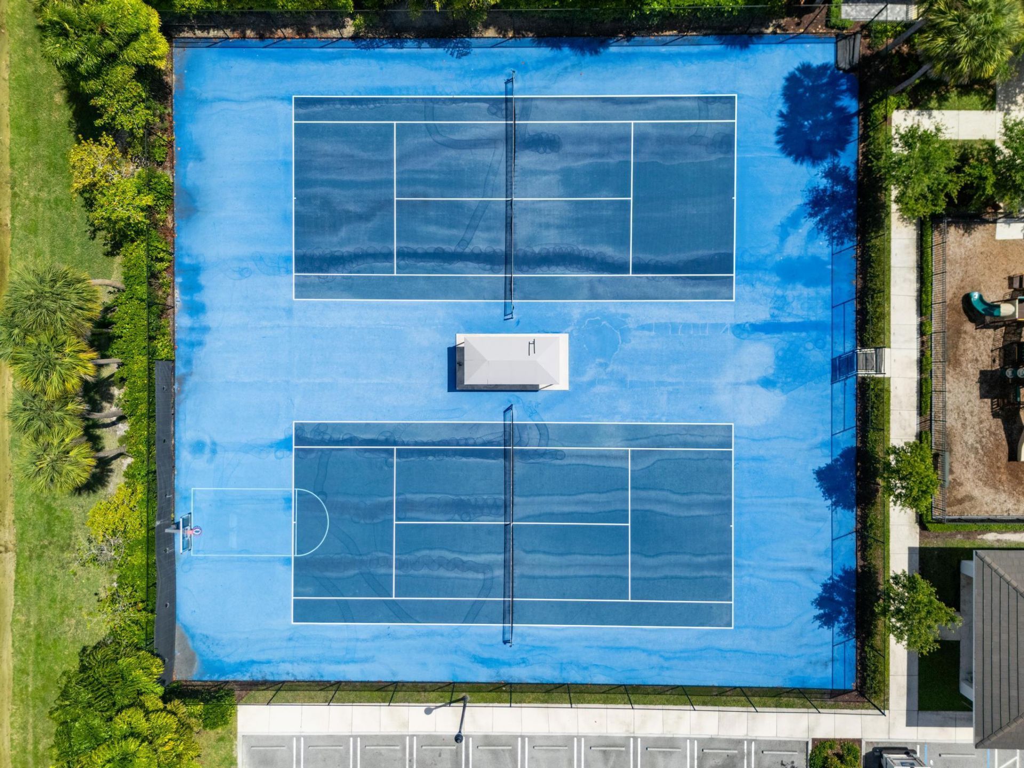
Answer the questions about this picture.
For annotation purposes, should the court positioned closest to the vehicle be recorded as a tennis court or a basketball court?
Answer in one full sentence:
From above, the court positioned closest to the vehicle can be identified as a tennis court.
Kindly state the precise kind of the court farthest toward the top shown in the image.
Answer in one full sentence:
It looks like the court farthest toward the top is a tennis court.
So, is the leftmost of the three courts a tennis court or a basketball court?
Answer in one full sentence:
I'd say the leftmost of the three courts is a basketball court.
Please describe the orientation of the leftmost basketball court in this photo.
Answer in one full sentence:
Seen from above, the leftmost basketball court lies from left to right.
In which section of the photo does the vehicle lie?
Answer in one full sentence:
The vehicle is in the bottom right part of the image.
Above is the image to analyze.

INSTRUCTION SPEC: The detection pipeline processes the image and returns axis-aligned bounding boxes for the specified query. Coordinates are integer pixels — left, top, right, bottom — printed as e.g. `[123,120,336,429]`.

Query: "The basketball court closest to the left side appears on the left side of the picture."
[192,488,329,556]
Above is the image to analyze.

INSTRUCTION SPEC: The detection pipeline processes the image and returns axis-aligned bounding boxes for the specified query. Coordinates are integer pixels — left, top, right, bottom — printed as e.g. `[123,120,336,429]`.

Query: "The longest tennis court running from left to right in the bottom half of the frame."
[292,421,734,629]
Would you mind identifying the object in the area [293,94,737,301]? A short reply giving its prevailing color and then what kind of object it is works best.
blue tennis court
